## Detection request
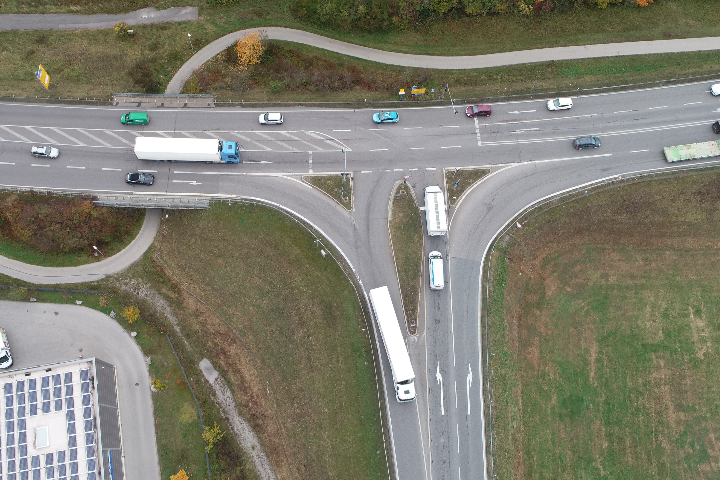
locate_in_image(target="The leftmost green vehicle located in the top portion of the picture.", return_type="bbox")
[120,111,151,125]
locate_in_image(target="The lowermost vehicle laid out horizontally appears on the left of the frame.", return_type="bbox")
[125,172,155,185]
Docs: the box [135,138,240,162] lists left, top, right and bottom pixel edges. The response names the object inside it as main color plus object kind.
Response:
white truck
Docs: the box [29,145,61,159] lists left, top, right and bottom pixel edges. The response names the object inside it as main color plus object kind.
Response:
white car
